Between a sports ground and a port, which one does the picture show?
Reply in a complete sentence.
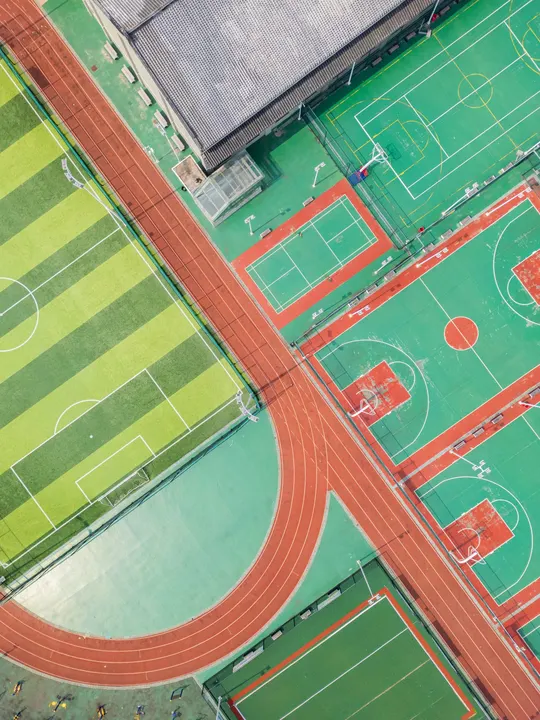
The area seen from above is a sports ground.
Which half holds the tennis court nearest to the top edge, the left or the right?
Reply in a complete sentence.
The tennis court nearest to the top edge sits on the right side.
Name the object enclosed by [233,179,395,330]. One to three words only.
sports court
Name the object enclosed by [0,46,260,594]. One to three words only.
soccer field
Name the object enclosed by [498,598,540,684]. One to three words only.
basketball court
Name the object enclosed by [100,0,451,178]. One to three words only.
building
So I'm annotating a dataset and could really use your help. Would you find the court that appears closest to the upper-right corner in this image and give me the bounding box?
[303,0,540,249]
